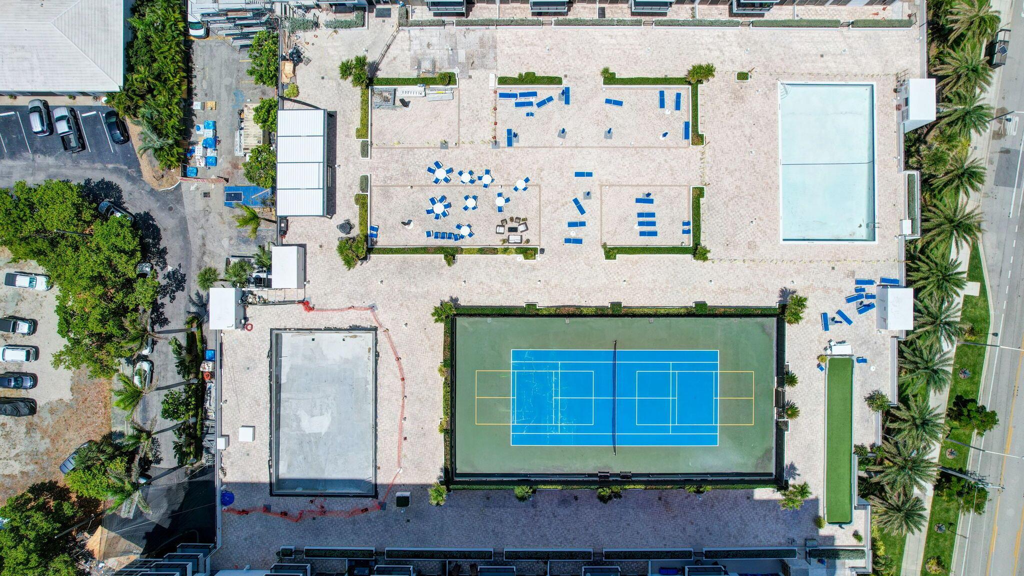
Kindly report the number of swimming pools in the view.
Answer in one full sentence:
In total, 2 swimming pools can be seen.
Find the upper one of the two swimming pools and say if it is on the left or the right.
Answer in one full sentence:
You can find the upper one of the two swimming pools on the right side of the picture.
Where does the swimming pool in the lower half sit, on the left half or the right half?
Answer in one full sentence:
You can find the swimming pool in the lower half on the left side of the picture.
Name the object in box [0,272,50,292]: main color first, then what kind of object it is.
white vehicle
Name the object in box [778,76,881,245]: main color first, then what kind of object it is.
white swimming pool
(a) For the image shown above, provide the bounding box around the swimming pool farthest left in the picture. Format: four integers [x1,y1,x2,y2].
[268,324,380,499]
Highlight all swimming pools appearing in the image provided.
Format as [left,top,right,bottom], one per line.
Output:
[268,324,380,499]
[778,76,881,245]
